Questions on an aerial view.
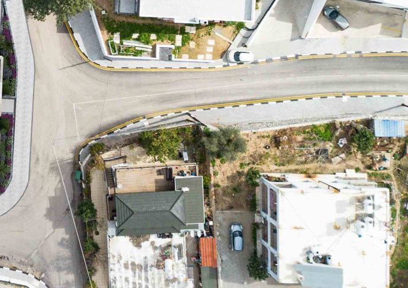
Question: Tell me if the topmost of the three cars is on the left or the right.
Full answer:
The topmost of the three cars sits on the right side.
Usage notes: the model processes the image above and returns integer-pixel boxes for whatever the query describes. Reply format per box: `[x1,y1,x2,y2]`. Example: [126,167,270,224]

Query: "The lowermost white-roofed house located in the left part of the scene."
[103,214,196,288]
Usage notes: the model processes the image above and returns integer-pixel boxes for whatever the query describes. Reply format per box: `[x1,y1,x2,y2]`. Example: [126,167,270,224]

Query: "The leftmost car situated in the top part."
[227,51,254,63]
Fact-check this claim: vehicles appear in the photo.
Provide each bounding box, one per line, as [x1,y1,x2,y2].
[321,4,352,33]
[228,223,244,251]
[227,51,254,63]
